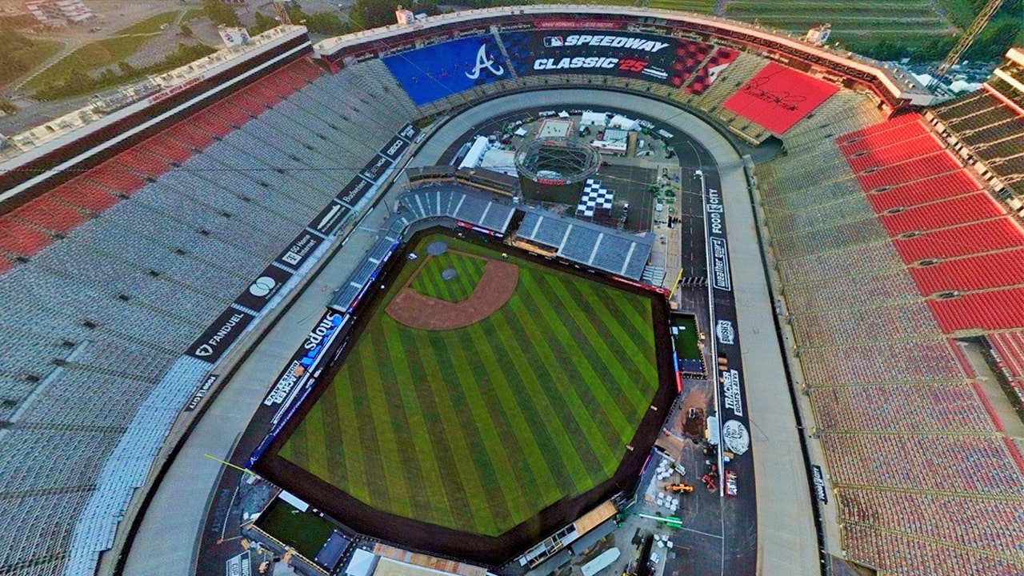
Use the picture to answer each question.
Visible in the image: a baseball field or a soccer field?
baseball field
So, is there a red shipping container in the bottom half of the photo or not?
No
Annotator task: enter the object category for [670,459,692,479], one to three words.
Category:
vehicle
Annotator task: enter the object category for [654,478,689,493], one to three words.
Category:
work vehicle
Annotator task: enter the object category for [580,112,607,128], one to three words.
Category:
tent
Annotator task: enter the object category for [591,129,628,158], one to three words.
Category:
building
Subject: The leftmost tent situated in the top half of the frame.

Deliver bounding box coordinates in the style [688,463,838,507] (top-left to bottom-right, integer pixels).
[459,137,489,172]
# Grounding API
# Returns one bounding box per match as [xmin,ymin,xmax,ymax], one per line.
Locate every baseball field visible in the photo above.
[251,225,680,565]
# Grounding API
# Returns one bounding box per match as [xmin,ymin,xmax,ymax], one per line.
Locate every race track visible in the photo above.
[98,80,855,576]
